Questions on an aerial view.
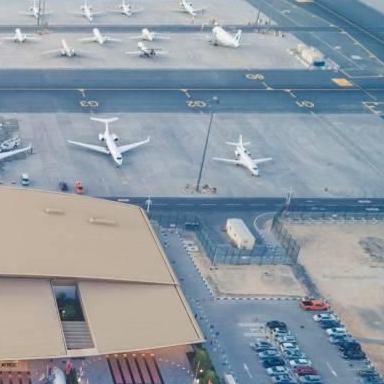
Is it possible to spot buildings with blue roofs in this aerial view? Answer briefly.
No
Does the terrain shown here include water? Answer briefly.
No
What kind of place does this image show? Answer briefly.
airport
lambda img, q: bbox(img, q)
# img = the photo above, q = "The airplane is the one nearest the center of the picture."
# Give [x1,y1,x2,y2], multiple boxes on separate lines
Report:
[212,135,273,179]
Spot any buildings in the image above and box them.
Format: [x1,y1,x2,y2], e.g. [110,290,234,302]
[0,186,205,362]
[219,212,258,246]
